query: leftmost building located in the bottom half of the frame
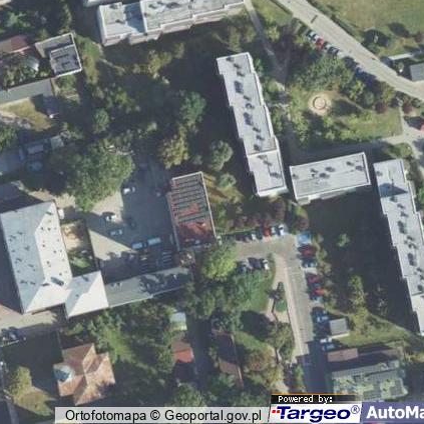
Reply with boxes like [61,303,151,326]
[0,201,76,317]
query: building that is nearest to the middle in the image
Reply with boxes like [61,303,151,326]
[168,171,216,253]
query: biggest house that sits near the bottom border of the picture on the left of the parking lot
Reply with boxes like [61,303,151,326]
[52,343,115,406]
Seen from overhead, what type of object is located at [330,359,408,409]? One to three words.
building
